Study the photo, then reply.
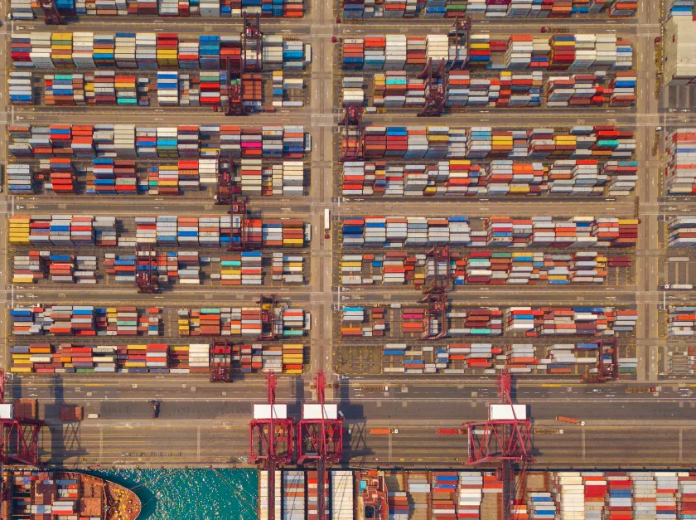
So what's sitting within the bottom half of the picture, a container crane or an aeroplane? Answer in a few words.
container crane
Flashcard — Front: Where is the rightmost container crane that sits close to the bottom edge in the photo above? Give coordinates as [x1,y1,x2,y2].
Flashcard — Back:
[455,370,535,520]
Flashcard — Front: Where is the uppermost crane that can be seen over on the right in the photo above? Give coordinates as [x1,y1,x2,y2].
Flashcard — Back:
[442,9,471,71]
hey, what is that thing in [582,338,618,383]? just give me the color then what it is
red container crane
